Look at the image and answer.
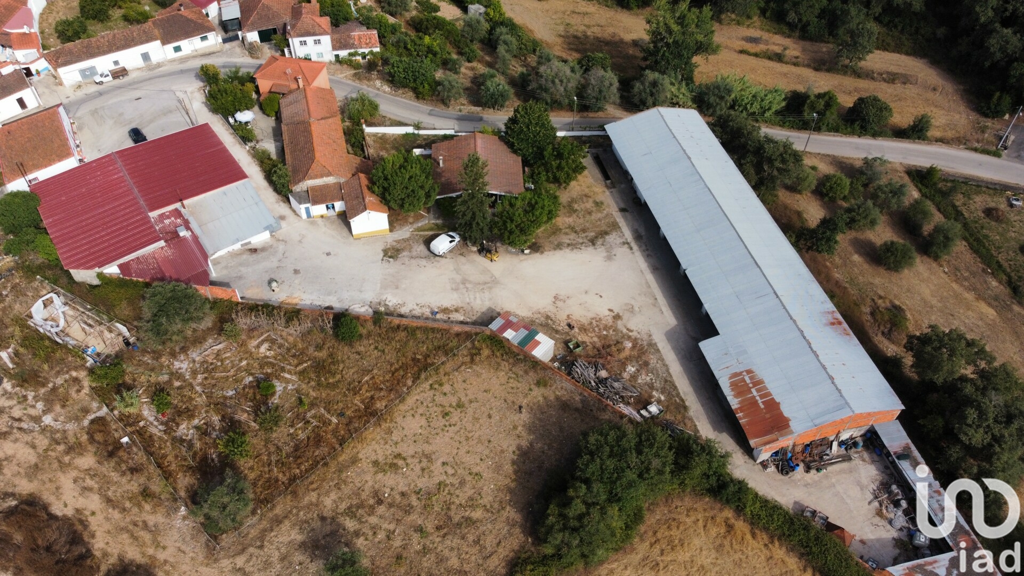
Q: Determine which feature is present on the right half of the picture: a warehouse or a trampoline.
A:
warehouse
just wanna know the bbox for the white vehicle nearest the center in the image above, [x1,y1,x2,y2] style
[430,230,459,257]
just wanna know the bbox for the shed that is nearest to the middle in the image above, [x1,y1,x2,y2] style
[488,311,554,363]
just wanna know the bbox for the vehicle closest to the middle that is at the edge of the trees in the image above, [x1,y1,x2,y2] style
[476,242,500,263]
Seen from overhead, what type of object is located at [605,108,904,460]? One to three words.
warehouse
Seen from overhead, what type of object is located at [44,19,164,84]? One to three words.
barn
